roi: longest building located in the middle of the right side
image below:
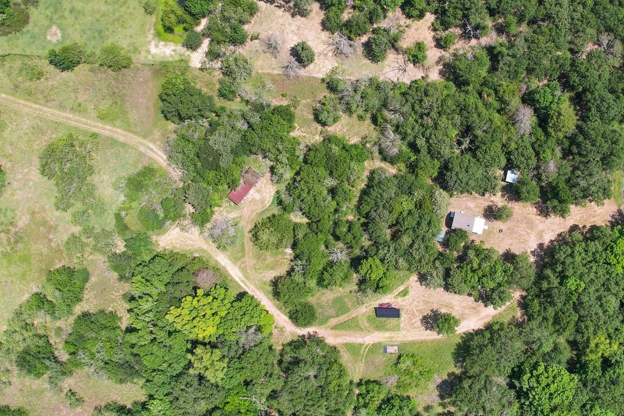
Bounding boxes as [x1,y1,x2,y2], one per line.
[451,212,487,235]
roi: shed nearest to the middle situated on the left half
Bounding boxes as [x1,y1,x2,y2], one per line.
[227,169,261,204]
